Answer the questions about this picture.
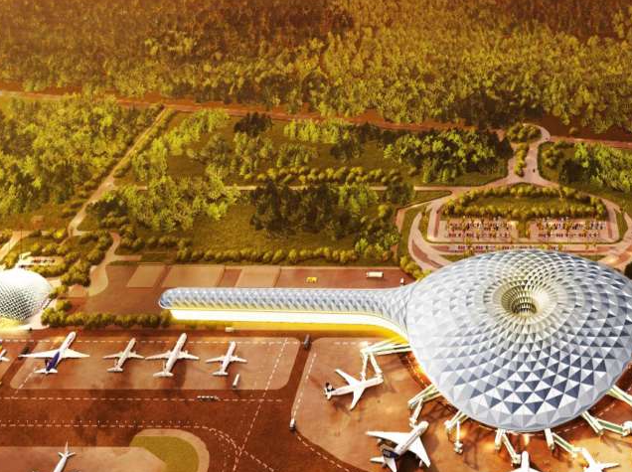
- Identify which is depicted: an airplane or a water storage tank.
airplane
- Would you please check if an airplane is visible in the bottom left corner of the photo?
Yes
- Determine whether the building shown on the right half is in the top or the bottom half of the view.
bottom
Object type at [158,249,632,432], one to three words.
building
